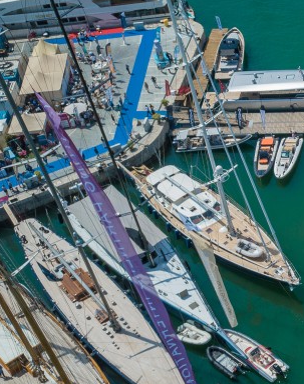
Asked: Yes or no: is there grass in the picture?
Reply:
No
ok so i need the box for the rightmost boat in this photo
[274,131,304,178]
